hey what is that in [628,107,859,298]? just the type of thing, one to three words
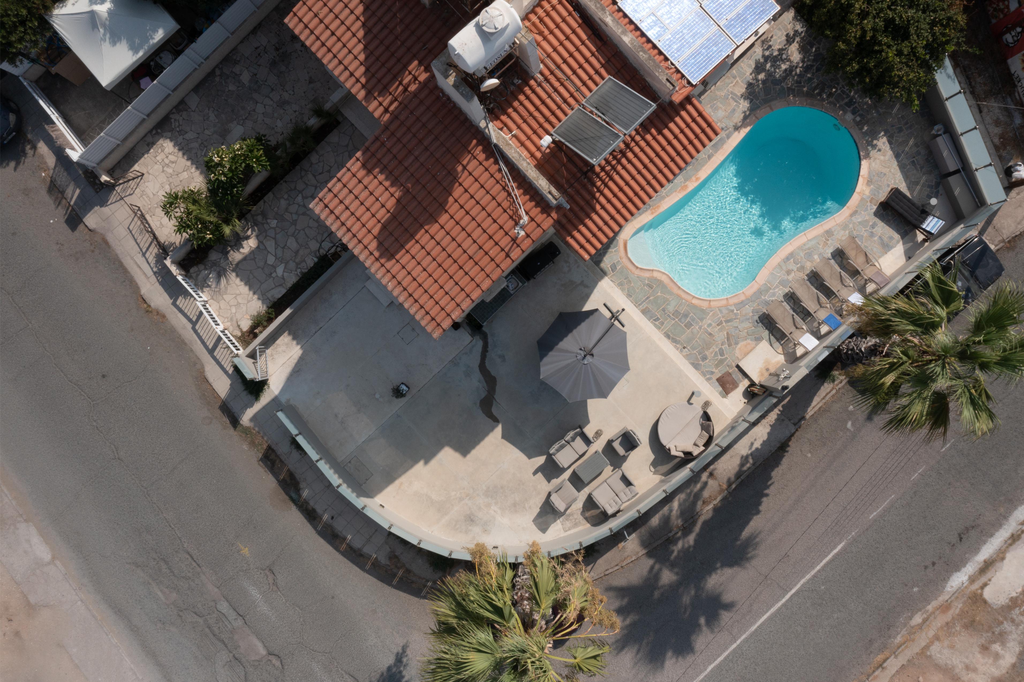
swimming pool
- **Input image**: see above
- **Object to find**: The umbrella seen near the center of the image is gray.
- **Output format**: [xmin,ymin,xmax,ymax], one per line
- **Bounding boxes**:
[537,304,633,402]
